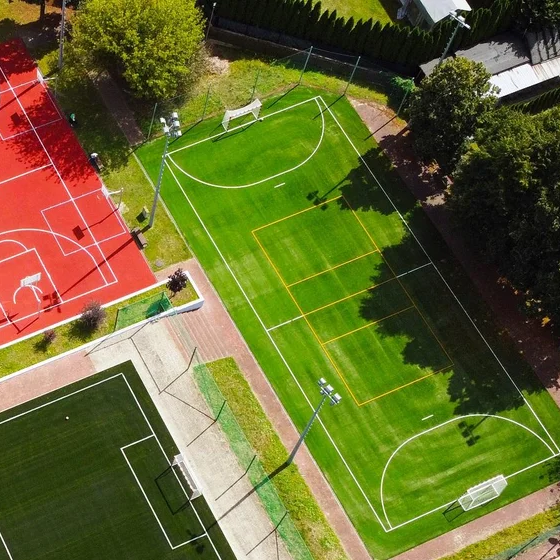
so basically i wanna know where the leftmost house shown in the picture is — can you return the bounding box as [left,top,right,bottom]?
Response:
[389,0,472,47]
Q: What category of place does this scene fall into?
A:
sports ground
